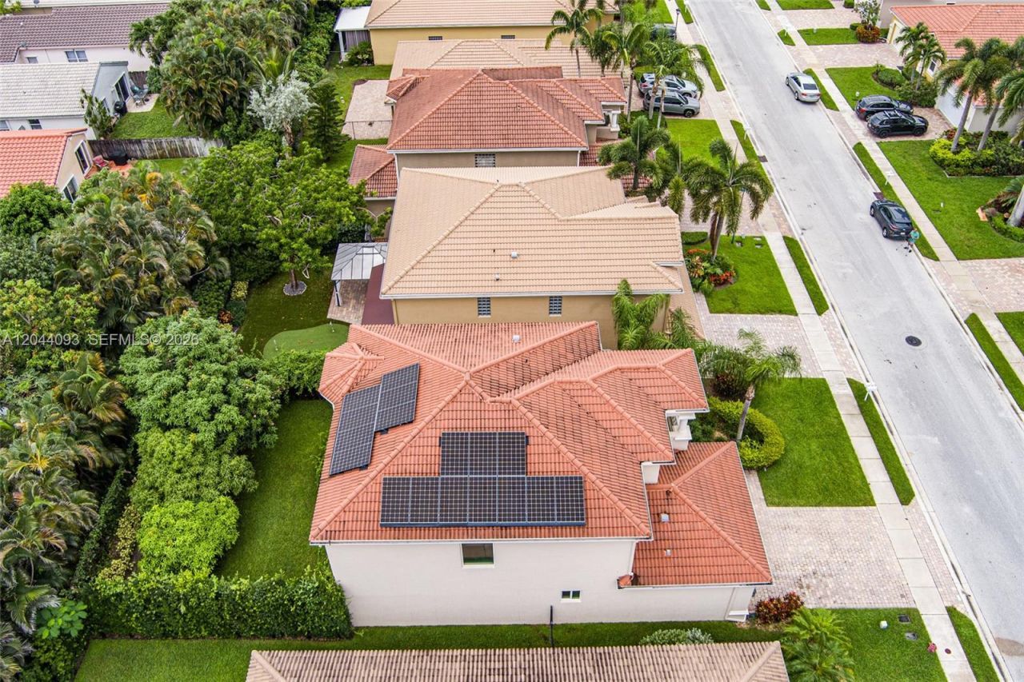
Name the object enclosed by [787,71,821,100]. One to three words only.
car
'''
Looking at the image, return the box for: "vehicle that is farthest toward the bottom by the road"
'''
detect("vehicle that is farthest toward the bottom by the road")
[869,197,918,240]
